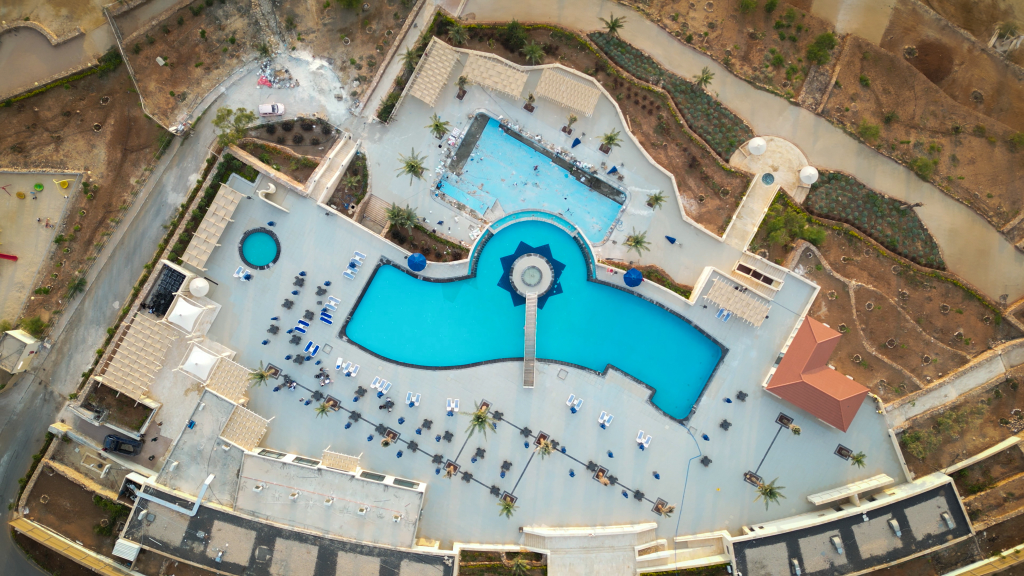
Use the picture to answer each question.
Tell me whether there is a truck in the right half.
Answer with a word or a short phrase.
No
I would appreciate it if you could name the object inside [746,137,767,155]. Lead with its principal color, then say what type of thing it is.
white umbrella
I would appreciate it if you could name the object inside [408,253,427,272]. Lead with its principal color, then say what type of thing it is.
blue umbrella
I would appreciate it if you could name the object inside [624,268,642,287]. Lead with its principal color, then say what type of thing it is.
blue umbrella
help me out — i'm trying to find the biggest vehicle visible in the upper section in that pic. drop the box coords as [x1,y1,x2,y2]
[257,101,284,116]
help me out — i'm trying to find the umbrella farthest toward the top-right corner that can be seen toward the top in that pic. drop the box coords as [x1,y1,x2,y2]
[798,166,819,184]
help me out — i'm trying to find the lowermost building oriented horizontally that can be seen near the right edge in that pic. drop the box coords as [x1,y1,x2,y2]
[724,468,974,576]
